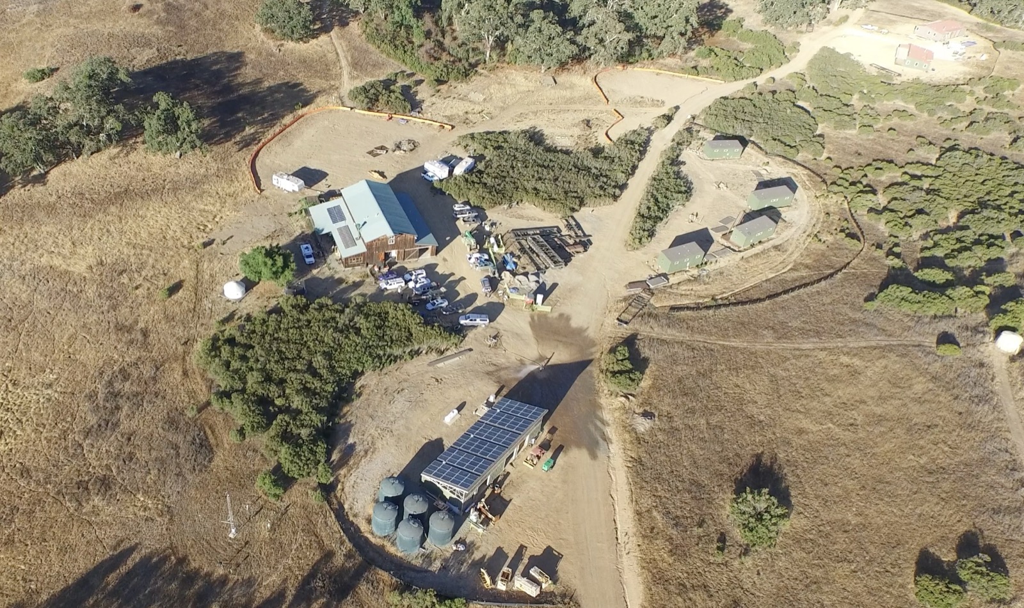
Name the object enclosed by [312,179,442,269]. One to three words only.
barn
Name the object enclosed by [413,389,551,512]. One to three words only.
shed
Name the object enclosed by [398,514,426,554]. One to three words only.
water tank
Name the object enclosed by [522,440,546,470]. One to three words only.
work vehicle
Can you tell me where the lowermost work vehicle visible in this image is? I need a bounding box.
[472,494,498,524]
